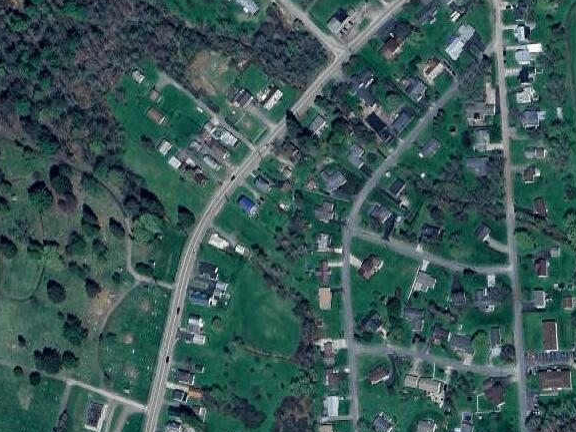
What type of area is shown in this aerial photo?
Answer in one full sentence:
This looks like a residential area.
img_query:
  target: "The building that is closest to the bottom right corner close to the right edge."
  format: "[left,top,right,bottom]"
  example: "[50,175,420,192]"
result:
[538,369,572,394]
